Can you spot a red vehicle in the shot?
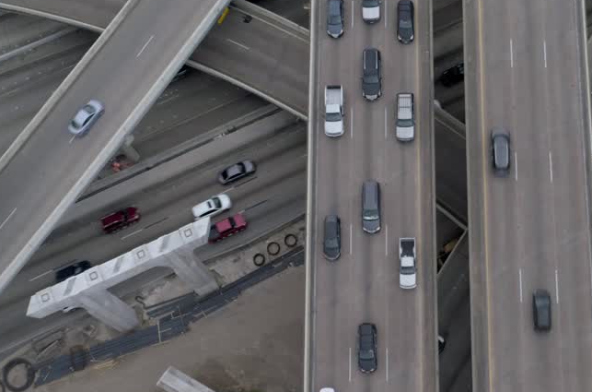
Yes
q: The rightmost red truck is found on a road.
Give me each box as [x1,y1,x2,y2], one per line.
[210,209,249,243]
